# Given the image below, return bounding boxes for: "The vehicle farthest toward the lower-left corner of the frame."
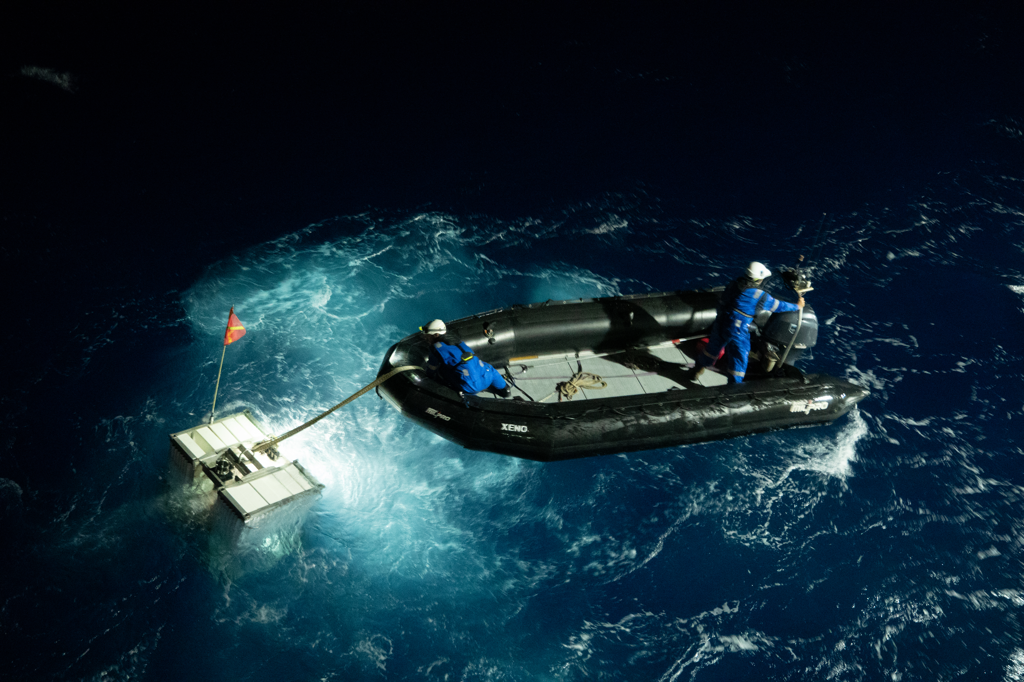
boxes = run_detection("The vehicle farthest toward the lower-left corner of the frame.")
[167,308,326,558]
